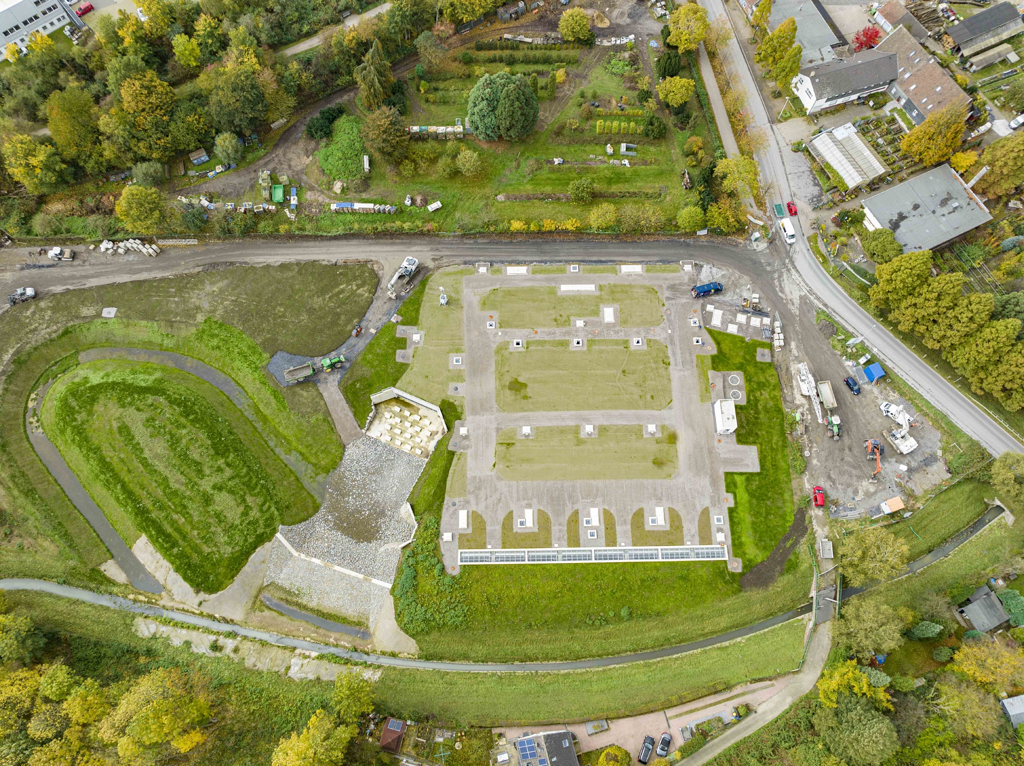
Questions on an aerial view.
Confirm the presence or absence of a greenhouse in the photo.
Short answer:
Yes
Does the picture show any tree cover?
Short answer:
Yes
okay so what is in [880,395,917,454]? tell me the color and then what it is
white work vehicle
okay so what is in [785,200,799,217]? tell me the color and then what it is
red car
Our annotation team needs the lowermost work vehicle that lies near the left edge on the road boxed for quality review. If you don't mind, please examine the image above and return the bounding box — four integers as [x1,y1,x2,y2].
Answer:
[9,286,35,306]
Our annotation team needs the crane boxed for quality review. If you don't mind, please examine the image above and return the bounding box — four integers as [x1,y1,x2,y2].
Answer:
[794,356,827,421]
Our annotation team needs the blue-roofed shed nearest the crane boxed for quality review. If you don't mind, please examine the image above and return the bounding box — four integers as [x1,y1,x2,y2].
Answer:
[858,363,886,385]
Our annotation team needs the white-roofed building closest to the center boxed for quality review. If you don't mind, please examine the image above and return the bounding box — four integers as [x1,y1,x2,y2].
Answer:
[711,398,738,433]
